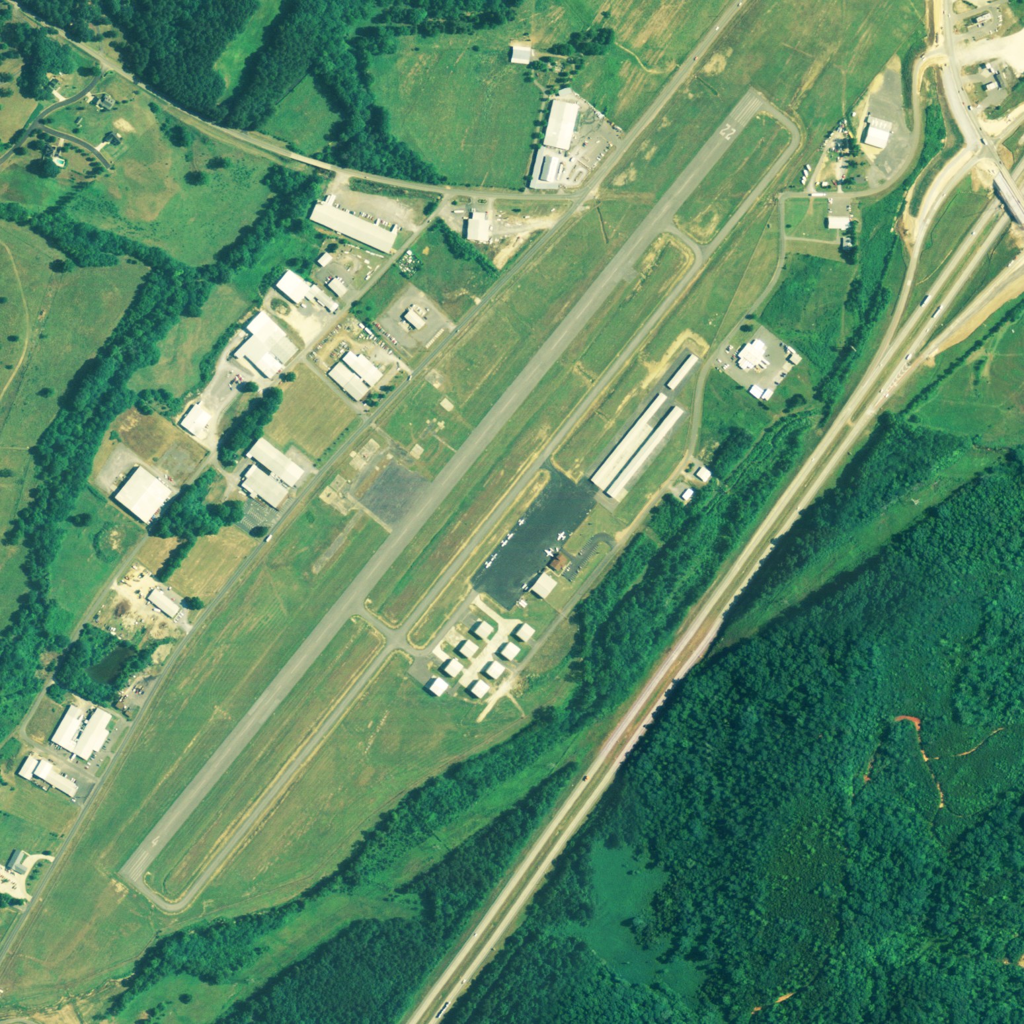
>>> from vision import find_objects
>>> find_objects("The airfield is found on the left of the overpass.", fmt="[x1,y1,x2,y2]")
[119,87,799,909]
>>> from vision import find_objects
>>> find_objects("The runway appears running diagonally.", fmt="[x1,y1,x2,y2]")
[119,87,766,885]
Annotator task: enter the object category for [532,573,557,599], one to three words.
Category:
hangar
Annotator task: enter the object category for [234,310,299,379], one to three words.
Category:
building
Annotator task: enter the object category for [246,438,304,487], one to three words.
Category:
building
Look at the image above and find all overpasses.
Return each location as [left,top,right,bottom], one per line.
[992,161,1024,228]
